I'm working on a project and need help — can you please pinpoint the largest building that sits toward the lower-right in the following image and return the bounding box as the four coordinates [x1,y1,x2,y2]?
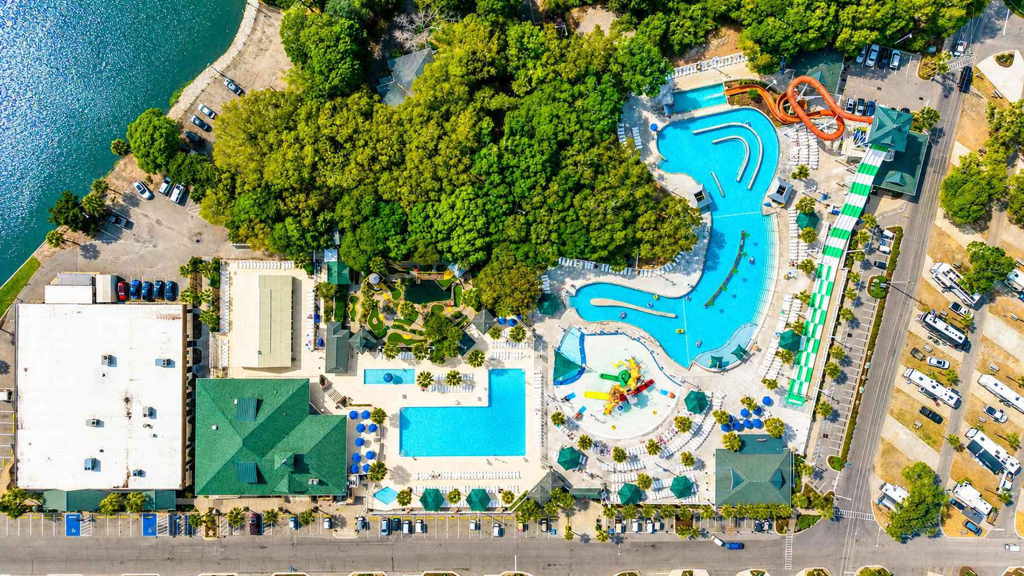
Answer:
[714,448,791,506]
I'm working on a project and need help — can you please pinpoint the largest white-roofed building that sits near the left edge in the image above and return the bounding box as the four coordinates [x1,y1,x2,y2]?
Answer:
[16,304,198,515]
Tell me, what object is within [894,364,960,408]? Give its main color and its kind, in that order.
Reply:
white camper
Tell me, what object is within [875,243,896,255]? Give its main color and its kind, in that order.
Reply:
white vehicle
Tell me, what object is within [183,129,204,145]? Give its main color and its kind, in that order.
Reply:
black car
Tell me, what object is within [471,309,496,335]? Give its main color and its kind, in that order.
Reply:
gray gazebo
